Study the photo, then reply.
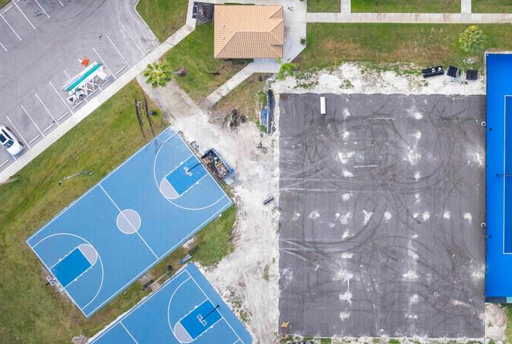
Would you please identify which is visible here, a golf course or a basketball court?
basketball court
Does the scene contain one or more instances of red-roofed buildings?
No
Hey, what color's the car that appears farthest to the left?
white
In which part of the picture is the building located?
top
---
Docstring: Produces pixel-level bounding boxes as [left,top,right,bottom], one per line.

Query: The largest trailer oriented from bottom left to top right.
[60,61,104,104]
